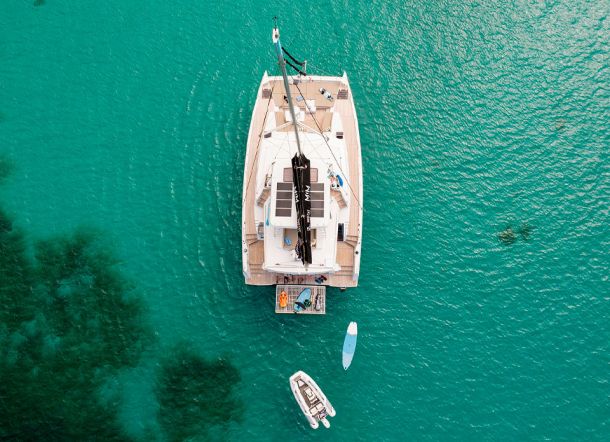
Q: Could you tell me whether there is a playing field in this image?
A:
No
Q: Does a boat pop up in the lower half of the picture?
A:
Yes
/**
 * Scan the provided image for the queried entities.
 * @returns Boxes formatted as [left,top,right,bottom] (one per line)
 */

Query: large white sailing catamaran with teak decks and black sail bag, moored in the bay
[242,9,363,315]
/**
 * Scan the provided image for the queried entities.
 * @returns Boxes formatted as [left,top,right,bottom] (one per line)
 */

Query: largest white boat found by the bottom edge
[293,372,334,429]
